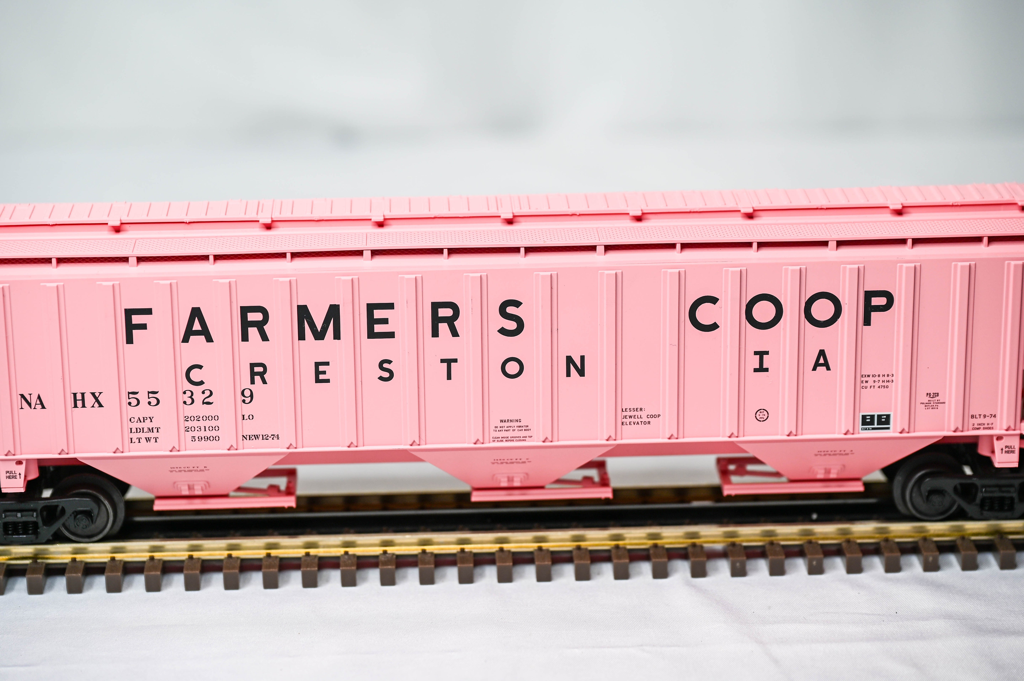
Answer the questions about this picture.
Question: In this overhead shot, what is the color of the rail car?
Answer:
pink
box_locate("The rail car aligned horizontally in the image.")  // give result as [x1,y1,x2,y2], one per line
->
[0,184,1024,544]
